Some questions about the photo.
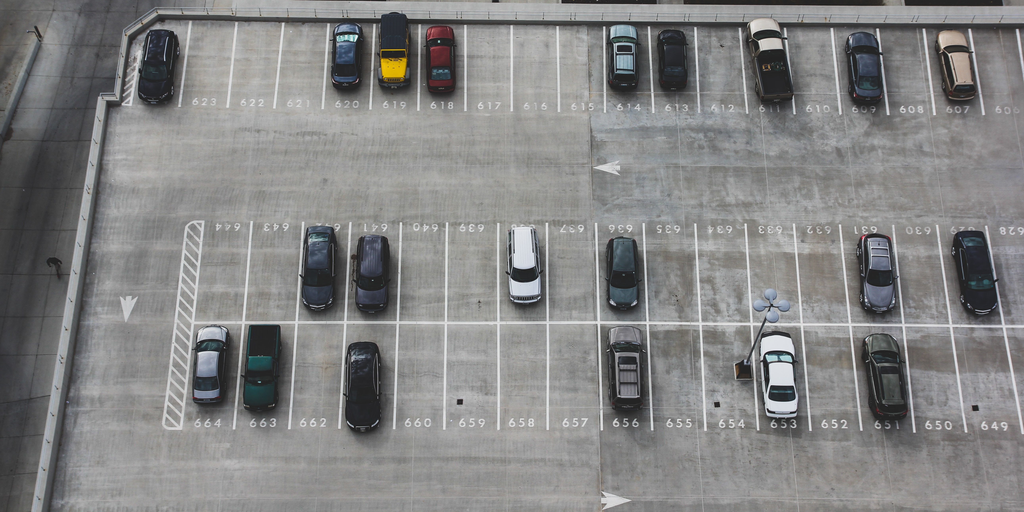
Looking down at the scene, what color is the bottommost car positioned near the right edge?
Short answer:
black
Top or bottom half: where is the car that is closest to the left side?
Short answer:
top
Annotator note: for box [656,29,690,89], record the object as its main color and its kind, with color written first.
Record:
black car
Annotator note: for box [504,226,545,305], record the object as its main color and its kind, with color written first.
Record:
white car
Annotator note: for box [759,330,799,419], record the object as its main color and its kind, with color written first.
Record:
white car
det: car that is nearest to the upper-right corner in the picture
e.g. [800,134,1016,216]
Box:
[934,30,977,100]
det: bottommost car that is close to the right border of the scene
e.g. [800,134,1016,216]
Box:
[952,230,1001,317]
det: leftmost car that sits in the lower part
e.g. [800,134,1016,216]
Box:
[191,325,231,404]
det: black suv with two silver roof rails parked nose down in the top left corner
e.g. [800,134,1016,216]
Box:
[134,29,179,105]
